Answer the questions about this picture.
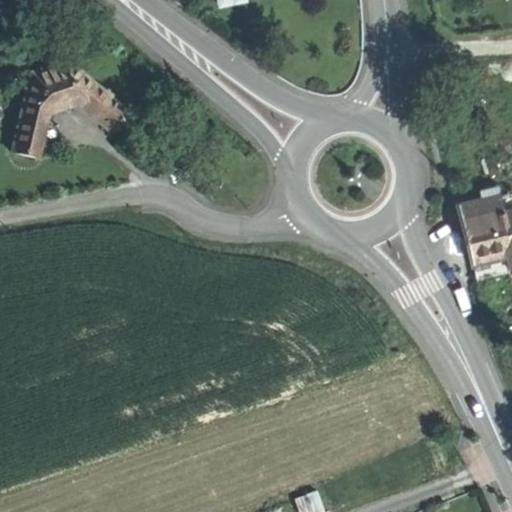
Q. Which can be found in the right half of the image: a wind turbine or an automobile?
automobile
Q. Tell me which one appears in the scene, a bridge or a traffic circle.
traffic circle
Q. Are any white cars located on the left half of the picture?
No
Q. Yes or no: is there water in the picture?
No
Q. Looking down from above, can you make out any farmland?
Yes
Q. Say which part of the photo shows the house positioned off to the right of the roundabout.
right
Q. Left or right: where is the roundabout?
right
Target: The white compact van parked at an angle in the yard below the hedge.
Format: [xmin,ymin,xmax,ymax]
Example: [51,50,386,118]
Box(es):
[430,225,452,243]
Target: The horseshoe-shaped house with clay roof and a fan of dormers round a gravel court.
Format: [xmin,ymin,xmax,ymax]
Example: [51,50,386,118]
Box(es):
[20,66,126,159]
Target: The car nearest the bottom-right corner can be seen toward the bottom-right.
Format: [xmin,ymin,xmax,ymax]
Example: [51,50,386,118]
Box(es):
[466,396,484,418]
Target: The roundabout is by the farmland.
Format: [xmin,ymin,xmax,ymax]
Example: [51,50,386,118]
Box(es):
[274,98,430,255]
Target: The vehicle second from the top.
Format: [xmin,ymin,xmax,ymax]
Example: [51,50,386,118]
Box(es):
[439,260,458,284]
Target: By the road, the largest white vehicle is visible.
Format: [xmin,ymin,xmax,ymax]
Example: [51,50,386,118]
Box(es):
[454,288,474,317]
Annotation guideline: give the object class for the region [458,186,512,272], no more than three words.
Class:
house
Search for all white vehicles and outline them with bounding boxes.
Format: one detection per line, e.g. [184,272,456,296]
[466,396,484,418]
[454,288,474,317]
[430,225,452,243]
